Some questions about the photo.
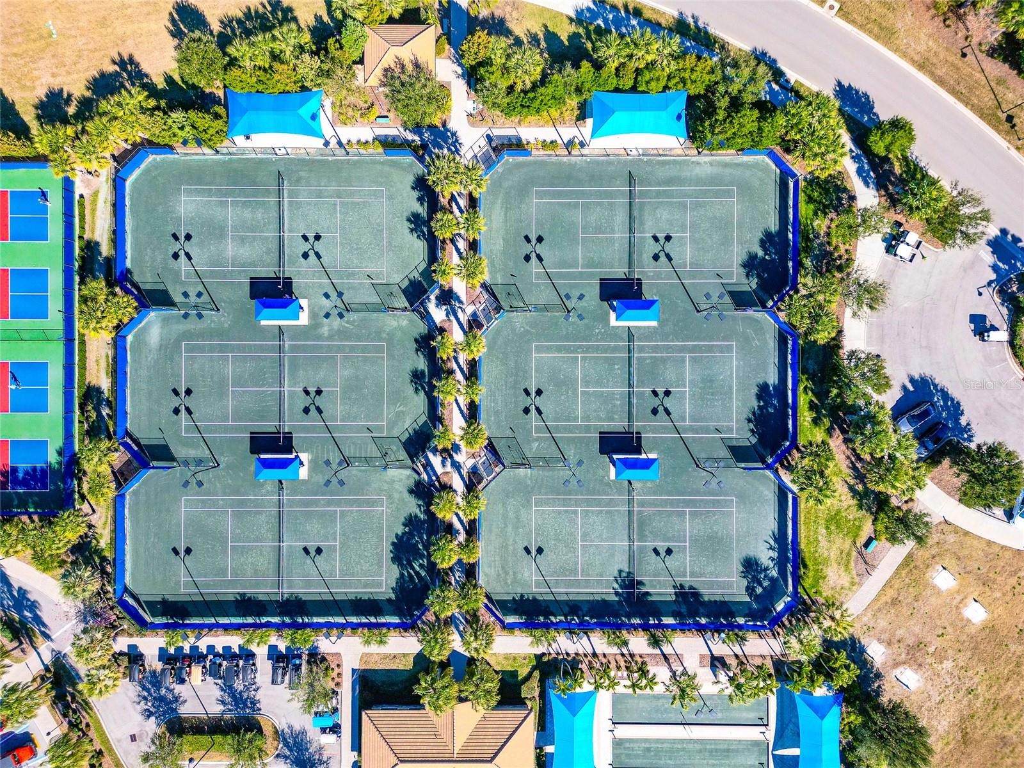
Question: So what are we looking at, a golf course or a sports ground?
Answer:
sports ground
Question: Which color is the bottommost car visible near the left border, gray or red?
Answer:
red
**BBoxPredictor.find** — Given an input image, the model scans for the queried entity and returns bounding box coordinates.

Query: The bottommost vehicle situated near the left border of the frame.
[2,740,41,768]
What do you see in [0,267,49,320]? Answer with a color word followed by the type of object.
blue sports court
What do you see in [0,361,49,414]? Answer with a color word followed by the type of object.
blue sports court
